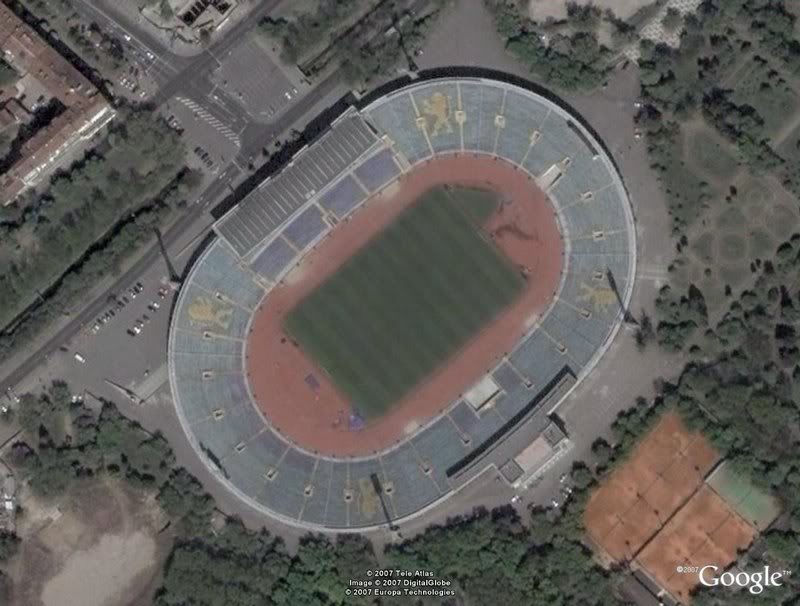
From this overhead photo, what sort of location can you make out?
sports ground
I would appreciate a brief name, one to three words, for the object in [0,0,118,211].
building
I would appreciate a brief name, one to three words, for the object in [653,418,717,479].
tennis court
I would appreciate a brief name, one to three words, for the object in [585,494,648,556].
tennis court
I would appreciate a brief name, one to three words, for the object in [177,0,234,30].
building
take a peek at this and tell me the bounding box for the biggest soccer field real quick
[286,187,526,417]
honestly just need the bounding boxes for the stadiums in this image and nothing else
[166,78,638,533]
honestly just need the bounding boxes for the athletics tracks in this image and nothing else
[243,151,568,460]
